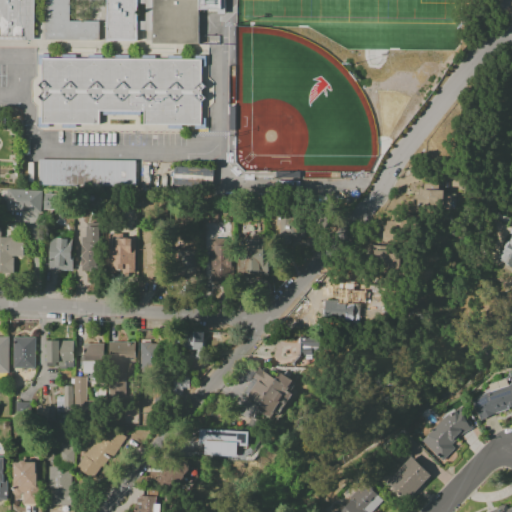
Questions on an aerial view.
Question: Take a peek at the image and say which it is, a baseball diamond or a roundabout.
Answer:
baseball diamond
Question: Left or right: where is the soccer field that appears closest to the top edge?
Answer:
right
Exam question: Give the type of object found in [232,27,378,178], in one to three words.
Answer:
baseball field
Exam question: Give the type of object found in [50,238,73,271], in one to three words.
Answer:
house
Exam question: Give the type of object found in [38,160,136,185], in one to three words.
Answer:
building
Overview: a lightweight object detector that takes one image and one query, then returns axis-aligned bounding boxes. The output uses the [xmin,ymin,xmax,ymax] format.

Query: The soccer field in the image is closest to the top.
[238,0,473,50]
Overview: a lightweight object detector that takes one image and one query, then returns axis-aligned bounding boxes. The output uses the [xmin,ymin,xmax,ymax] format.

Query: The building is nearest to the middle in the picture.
[238,248,264,274]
